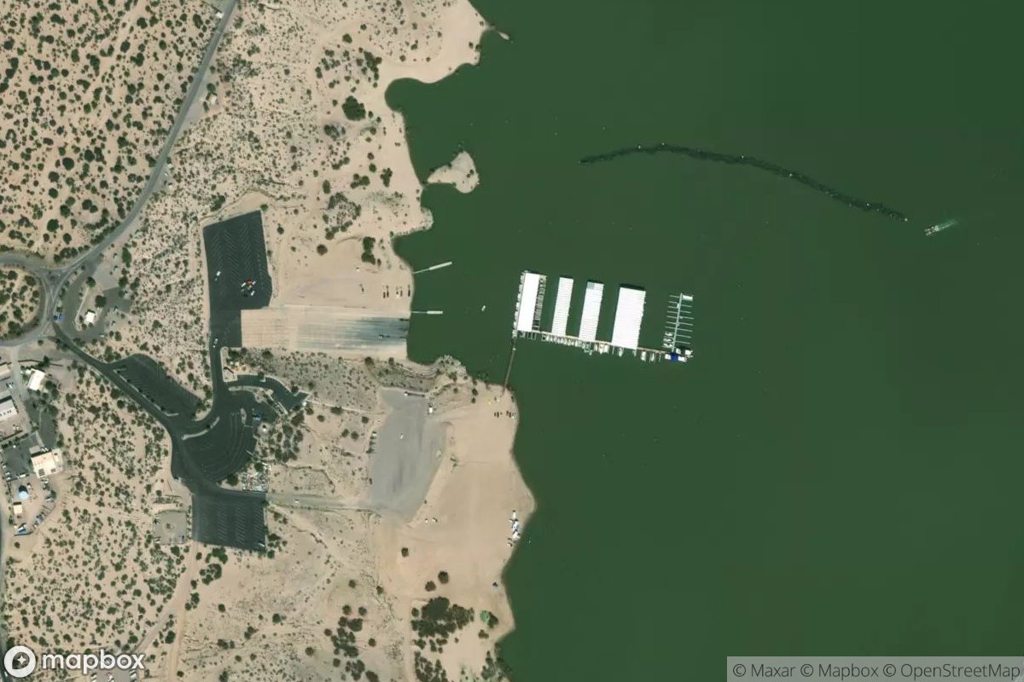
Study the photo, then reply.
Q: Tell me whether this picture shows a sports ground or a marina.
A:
marina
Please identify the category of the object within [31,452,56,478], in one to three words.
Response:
building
